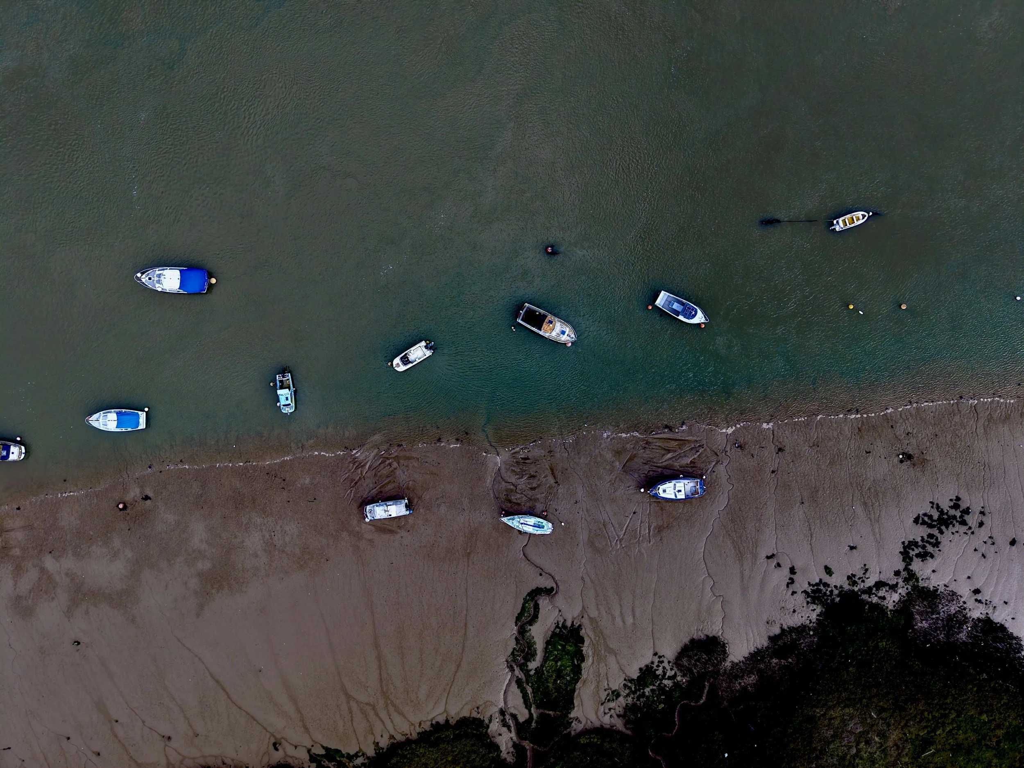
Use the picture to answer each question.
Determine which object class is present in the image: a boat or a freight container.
boat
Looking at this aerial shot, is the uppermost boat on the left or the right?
right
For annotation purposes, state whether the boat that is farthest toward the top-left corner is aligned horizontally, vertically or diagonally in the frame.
horizontally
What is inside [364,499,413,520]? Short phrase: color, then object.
white boat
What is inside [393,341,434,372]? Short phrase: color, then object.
white boat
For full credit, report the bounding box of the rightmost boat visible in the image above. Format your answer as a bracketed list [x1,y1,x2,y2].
[828,211,869,231]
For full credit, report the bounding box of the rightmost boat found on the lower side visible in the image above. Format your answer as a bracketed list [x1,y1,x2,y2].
[648,478,707,501]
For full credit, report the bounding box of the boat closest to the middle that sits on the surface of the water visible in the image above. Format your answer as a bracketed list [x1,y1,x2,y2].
[516,303,577,343]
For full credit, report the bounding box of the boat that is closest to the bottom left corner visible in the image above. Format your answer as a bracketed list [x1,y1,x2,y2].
[0,440,27,461]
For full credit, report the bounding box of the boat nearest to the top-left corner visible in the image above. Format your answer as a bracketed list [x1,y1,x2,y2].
[134,267,210,294]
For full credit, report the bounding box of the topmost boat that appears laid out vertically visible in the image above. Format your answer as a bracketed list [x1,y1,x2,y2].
[276,366,295,415]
